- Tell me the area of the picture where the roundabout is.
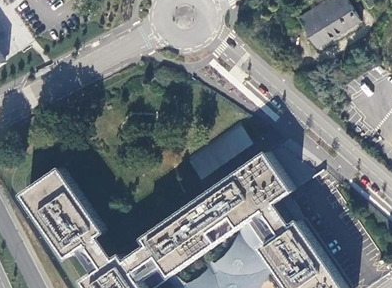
top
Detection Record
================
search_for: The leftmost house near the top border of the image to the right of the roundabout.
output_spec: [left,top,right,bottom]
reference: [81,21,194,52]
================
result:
[300,0,363,50]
